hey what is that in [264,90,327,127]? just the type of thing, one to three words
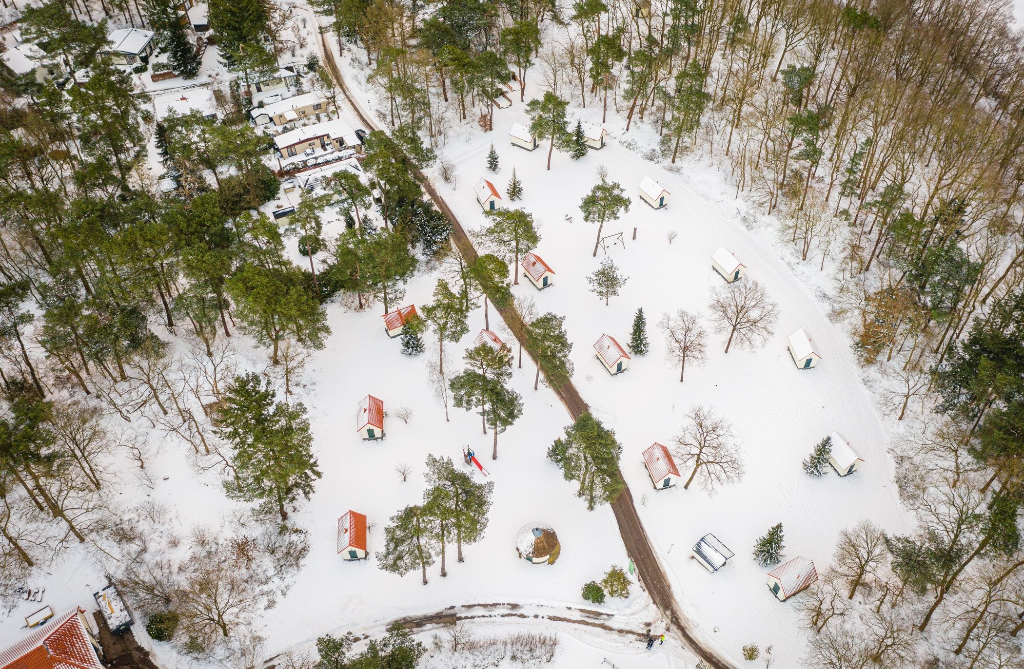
house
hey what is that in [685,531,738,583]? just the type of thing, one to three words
shed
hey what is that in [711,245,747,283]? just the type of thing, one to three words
building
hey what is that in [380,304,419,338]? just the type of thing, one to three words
building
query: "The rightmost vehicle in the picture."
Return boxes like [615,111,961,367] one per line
[355,126,372,143]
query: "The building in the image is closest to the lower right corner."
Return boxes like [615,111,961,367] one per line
[767,555,820,603]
